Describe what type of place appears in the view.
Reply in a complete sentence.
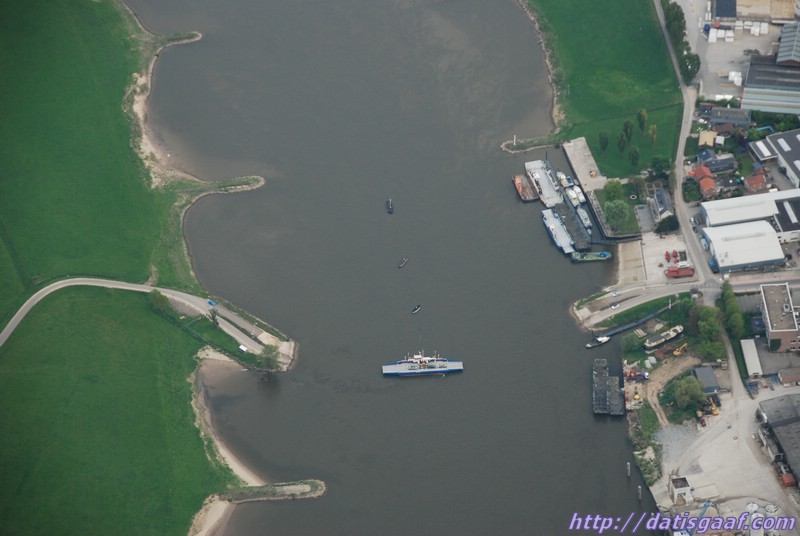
The picture captures a port.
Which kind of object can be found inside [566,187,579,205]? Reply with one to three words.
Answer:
boat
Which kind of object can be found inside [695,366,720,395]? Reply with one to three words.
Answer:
shed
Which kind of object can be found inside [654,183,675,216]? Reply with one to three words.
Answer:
house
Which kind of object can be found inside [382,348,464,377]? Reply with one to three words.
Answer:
ship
